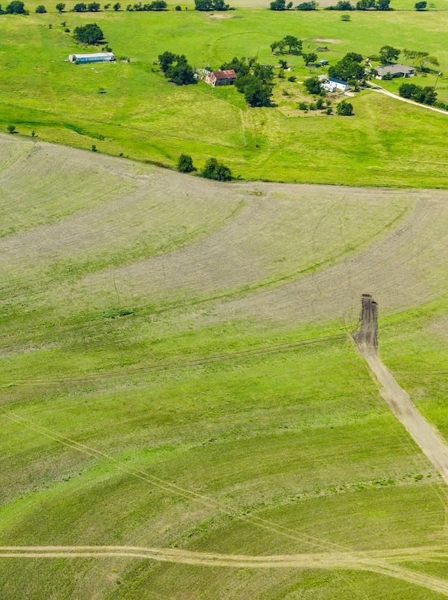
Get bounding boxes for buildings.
[363,63,419,79]
[206,68,237,85]
[73,52,115,63]
[324,78,351,91]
